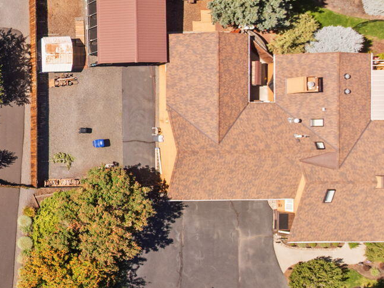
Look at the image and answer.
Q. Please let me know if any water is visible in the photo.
No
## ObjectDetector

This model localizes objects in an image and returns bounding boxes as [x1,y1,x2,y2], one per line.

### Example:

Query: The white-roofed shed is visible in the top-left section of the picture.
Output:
[38,35,72,72]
